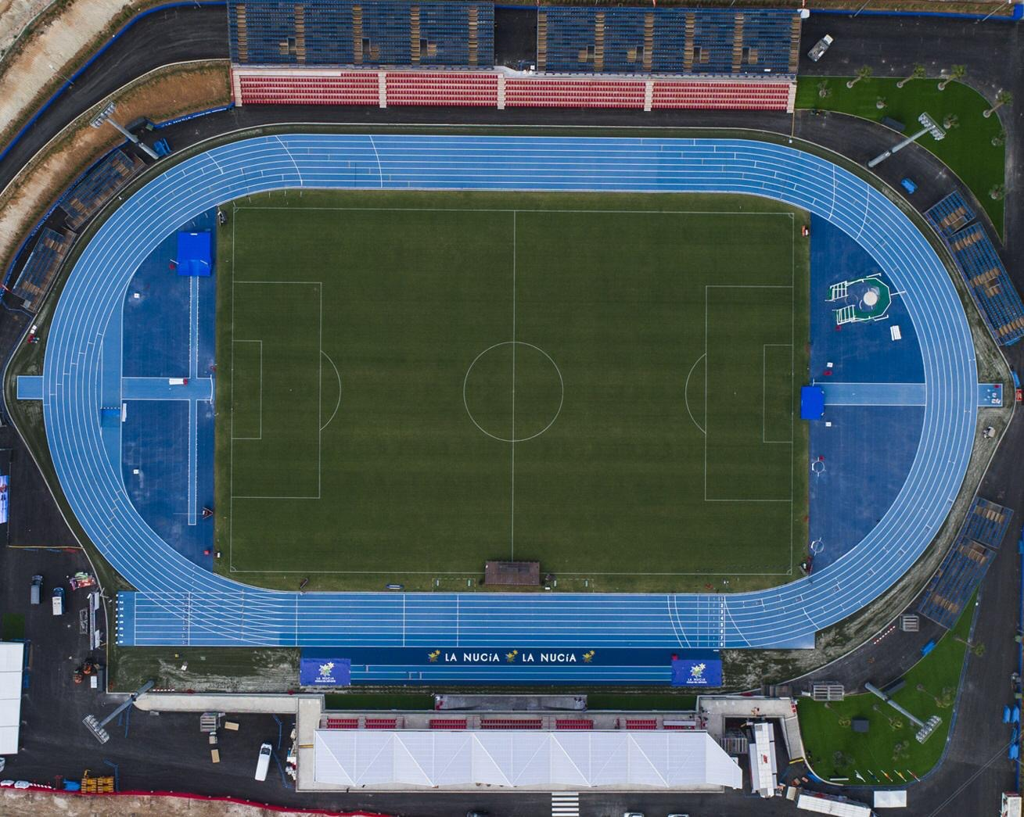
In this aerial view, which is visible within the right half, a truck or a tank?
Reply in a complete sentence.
Visible within the right half is a truck.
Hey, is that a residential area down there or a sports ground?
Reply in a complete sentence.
This image shows a sports ground.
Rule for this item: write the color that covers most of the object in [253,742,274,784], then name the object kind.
white vehicle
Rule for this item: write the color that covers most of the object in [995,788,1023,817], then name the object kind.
white truck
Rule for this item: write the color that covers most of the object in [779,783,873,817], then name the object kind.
white truck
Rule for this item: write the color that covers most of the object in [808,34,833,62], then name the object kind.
gray truck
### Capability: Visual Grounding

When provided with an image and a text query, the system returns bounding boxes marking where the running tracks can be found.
[17,134,1003,687]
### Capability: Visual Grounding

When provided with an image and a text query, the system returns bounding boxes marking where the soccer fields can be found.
[214,188,810,594]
